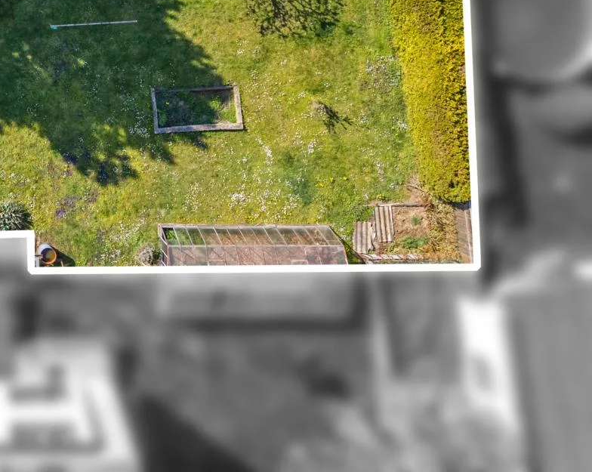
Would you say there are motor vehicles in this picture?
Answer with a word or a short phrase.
No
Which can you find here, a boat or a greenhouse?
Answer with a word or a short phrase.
greenhouse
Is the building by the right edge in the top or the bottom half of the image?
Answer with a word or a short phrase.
bottom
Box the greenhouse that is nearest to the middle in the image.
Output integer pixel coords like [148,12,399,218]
[159,221,350,323]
